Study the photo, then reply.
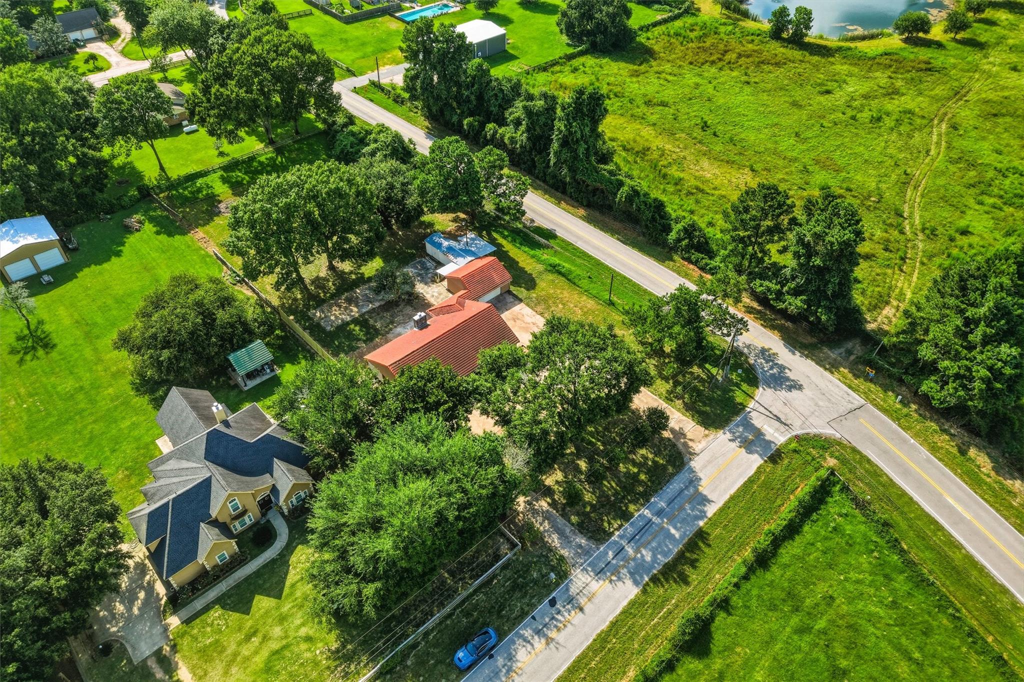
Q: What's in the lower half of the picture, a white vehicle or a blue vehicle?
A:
blue vehicle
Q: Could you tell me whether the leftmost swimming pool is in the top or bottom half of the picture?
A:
top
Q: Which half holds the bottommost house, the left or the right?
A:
left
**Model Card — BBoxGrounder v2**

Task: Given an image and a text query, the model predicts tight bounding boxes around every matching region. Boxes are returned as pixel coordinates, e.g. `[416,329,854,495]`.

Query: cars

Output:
[72,35,85,45]
[453,626,497,670]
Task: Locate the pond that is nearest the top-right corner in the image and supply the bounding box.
[745,0,957,39]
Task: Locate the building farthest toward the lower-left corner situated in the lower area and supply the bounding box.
[129,385,317,589]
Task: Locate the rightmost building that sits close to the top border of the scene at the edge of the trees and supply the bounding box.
[450,17,511,56]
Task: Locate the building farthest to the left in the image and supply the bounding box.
[0,217,65,281]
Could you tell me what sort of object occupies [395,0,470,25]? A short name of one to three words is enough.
swimming pool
